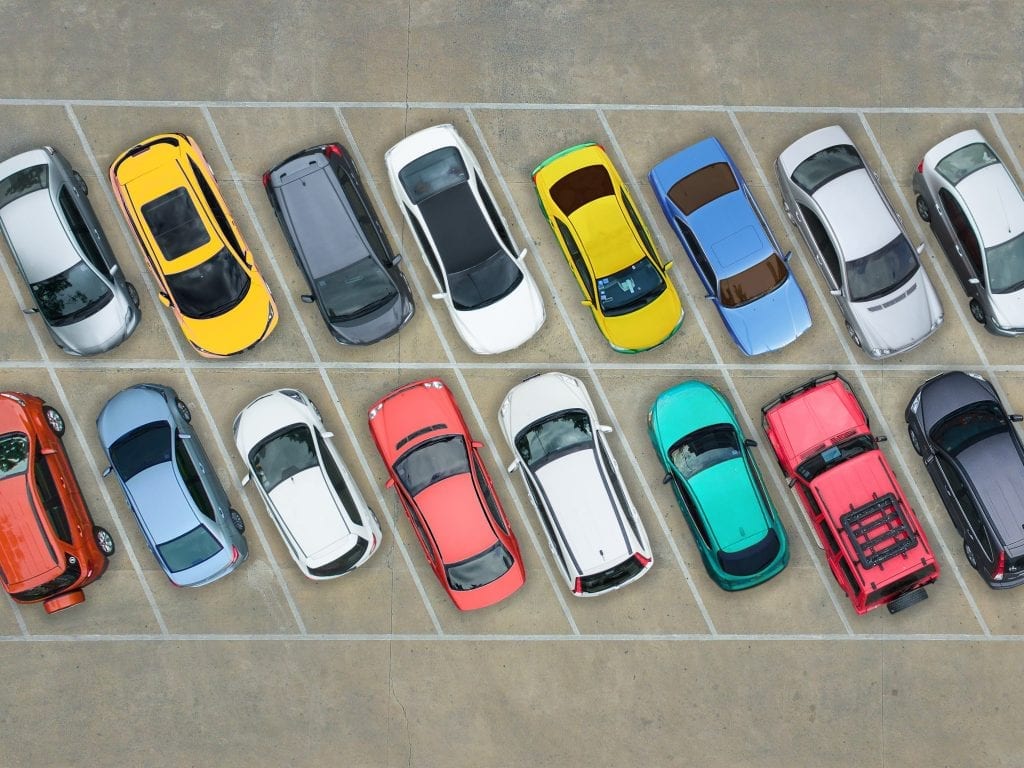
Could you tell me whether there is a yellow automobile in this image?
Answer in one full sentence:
Yes, there's a yellow automobile down there.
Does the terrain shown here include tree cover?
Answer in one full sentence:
No, the scene doesn't show any tree cover.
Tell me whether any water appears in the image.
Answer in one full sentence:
No, there is no water in the image.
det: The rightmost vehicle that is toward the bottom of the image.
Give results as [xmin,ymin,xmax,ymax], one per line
[902,372,1024,588]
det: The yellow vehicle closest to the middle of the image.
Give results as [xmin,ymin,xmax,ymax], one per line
[532,146,678,356]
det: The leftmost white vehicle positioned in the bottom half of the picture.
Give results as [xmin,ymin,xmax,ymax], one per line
[233,387,380,584]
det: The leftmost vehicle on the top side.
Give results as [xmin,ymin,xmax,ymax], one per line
[0,142,143,353]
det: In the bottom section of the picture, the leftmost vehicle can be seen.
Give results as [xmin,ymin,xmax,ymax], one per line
[0,395,113,613]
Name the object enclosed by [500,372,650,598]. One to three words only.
car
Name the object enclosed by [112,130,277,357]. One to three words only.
car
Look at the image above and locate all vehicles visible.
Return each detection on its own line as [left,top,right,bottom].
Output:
[649,380,787,593]
[646,141,809,357]
[773,127,946,360]
[387,124,543,355]
[902,372,1024,588]
[369,380,526,612]
[532,146,678,356]
[0,395,113,613]
[911,131,1024,339]
[233,387,380,584]
[0,142,143,353]
[94,383,247,591]
[112,130,277,357]
[762,373,938,613]
[500,372,650,598]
